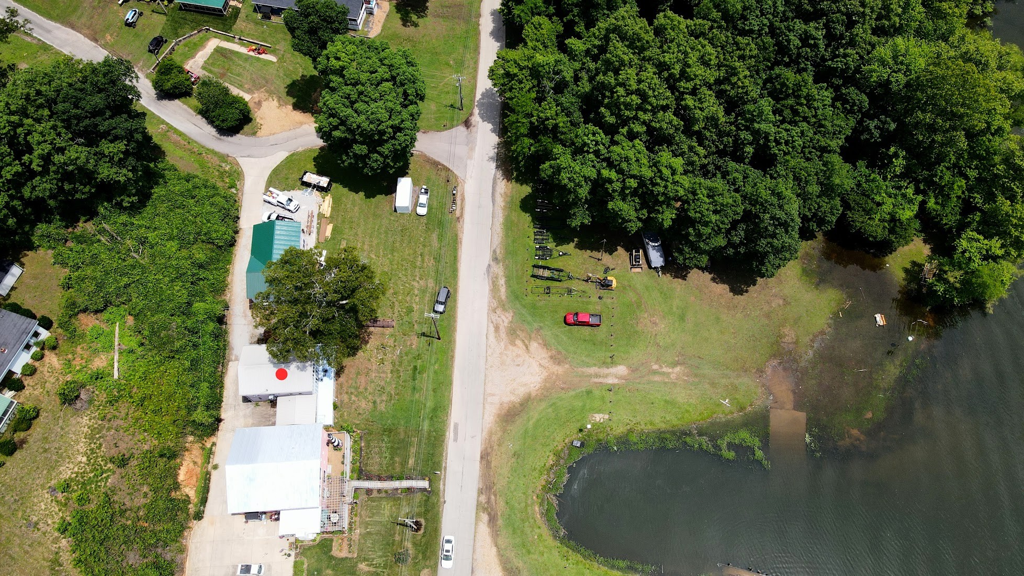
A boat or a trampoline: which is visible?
boat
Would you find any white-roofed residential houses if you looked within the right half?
No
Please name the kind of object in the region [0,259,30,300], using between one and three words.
shed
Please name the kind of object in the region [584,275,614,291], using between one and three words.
work vehicle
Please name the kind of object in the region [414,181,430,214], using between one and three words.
vehicle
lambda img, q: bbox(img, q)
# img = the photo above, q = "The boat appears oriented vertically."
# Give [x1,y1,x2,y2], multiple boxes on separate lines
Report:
[643,228,668,278]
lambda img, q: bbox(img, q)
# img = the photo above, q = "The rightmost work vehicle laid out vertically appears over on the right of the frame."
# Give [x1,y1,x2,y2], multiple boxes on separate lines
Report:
[631,247,644,272]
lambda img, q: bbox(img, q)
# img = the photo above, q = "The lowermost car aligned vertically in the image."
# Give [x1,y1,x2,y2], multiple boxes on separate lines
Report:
[440,533,456,570]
